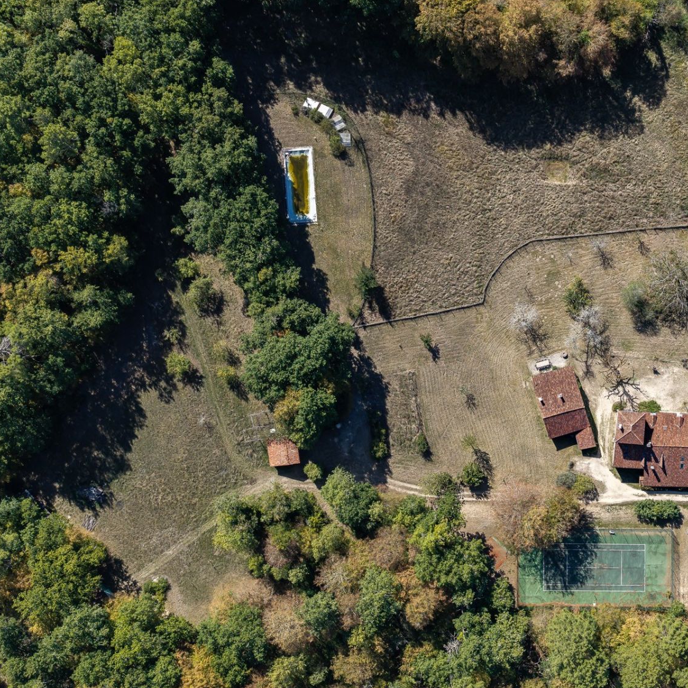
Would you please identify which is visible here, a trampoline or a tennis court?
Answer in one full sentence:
There is a tennis court in the scene.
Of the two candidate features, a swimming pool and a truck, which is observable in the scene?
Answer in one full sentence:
The image shows a swimming pool.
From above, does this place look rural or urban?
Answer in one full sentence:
From above, the setting appears rural.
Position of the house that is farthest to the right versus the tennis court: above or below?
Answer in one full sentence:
From this view, the house that is farthest to the right can be seen above the tennis court.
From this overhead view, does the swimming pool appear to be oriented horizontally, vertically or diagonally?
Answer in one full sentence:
In this picture, the swimming pool lies vertically.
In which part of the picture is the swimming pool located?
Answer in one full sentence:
The swimming pool is located in the top region of the scene.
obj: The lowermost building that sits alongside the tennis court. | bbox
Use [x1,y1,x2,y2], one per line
[613,411,688,487]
